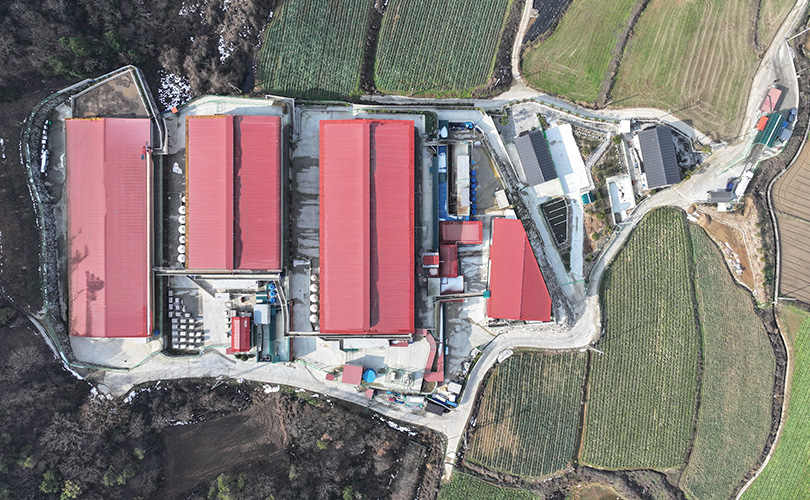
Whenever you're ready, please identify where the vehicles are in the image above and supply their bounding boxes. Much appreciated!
[723,177,734,191]
[731,165,754,201]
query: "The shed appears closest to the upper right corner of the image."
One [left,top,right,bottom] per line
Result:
[756,87,782,113]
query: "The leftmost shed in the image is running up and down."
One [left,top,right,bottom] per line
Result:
[65,118,153,338]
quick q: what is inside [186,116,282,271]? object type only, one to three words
shed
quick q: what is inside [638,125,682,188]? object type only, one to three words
house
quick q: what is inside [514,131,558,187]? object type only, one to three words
house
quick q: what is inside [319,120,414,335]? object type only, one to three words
shed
